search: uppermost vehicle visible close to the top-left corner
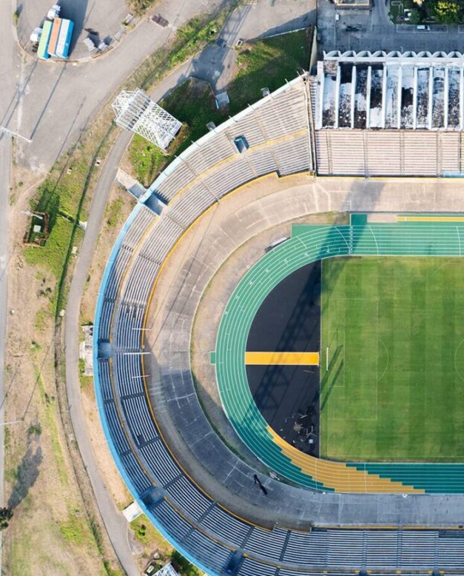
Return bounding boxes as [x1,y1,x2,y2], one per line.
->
[46,5,61,22]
